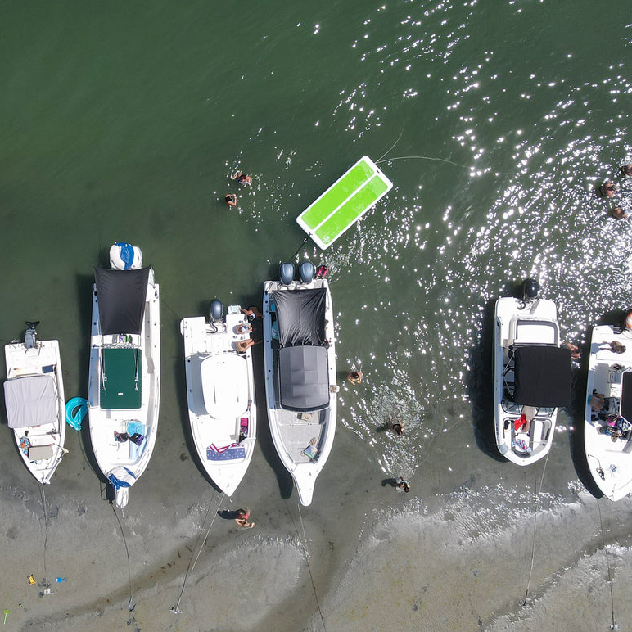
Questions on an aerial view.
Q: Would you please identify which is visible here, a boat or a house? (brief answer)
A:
boat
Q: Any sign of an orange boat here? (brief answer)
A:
No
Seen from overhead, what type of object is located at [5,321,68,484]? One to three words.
boat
